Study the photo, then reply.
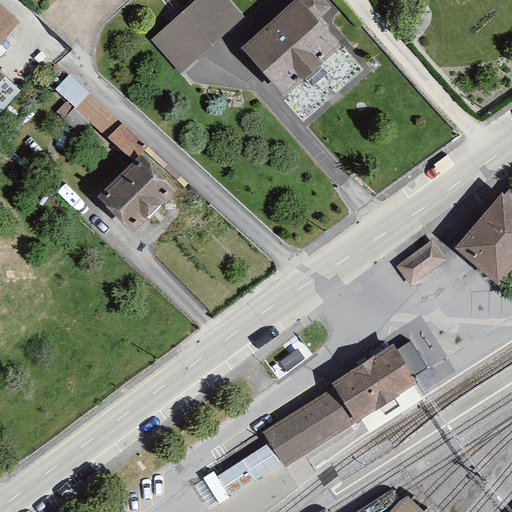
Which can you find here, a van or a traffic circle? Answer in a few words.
van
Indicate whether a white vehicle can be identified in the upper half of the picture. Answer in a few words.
Yes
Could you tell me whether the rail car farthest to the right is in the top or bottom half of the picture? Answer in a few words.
bottom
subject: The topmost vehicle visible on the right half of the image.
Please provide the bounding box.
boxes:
[428,154,455,178]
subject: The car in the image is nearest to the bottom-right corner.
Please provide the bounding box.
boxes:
[252,414,274,433]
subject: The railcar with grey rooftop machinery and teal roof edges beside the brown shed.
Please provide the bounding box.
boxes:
[355,489,399,512]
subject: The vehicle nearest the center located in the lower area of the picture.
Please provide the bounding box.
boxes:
[254,328,278,348]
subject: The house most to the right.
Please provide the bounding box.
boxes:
[455,182,512,284]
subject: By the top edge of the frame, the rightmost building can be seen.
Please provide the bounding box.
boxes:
[242,0,342,97]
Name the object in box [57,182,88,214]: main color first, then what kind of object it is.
white van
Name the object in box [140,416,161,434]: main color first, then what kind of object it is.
blue car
